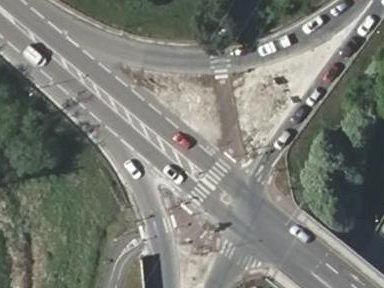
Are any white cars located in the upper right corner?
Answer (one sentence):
Yes, a white car appears in the upper right corner.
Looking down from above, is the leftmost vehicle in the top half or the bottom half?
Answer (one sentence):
The top half of the photo is where the leftmost vehicle is.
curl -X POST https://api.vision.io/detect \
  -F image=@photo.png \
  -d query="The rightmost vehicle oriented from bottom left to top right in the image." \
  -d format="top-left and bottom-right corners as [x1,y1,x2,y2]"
[358,13,378,34]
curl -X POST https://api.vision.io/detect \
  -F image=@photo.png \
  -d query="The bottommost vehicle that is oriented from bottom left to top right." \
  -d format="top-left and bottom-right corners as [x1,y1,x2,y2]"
[276,126,294,148]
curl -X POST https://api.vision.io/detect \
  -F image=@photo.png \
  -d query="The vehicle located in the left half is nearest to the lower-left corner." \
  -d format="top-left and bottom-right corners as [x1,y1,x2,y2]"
[124,160,142,180]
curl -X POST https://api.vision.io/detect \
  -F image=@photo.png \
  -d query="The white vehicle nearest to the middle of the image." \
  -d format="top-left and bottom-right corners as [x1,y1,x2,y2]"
[163,165,184,184]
